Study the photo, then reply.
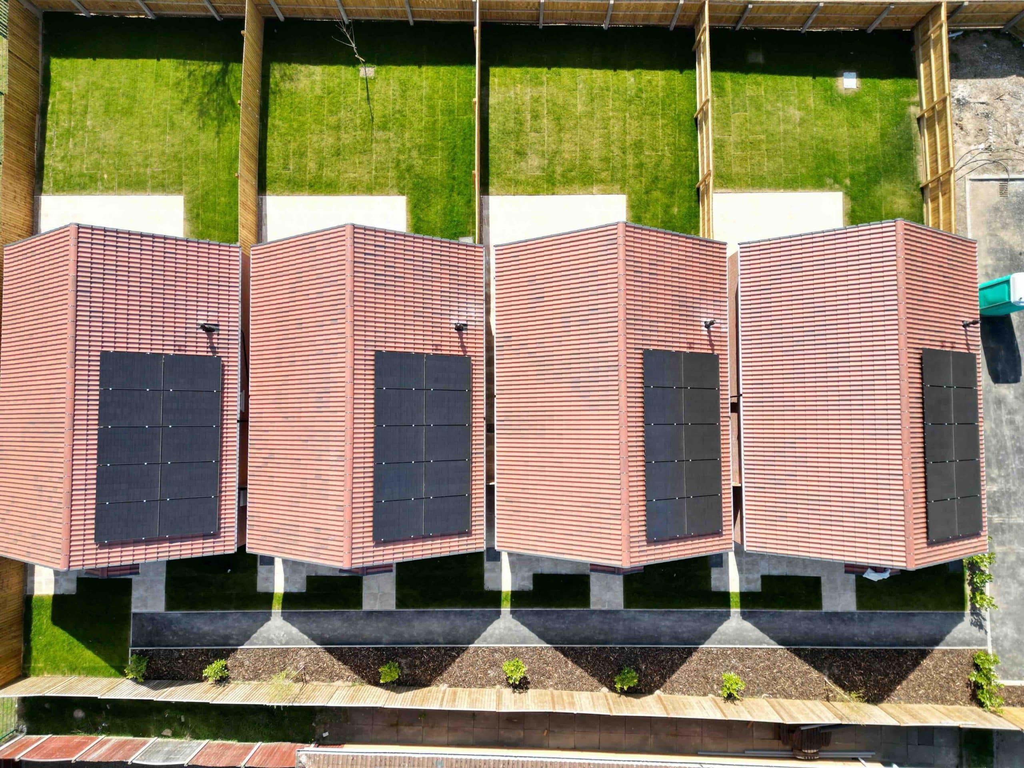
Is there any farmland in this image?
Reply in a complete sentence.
No, there's no farmland in this view.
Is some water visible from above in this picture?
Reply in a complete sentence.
No, the scene doesn't show any water.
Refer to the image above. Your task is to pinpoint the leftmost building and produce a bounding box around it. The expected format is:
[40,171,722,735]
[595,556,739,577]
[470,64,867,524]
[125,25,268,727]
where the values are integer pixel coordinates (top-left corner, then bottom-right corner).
[0,223,250,578]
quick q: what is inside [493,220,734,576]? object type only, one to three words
house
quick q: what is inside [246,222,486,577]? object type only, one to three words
house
